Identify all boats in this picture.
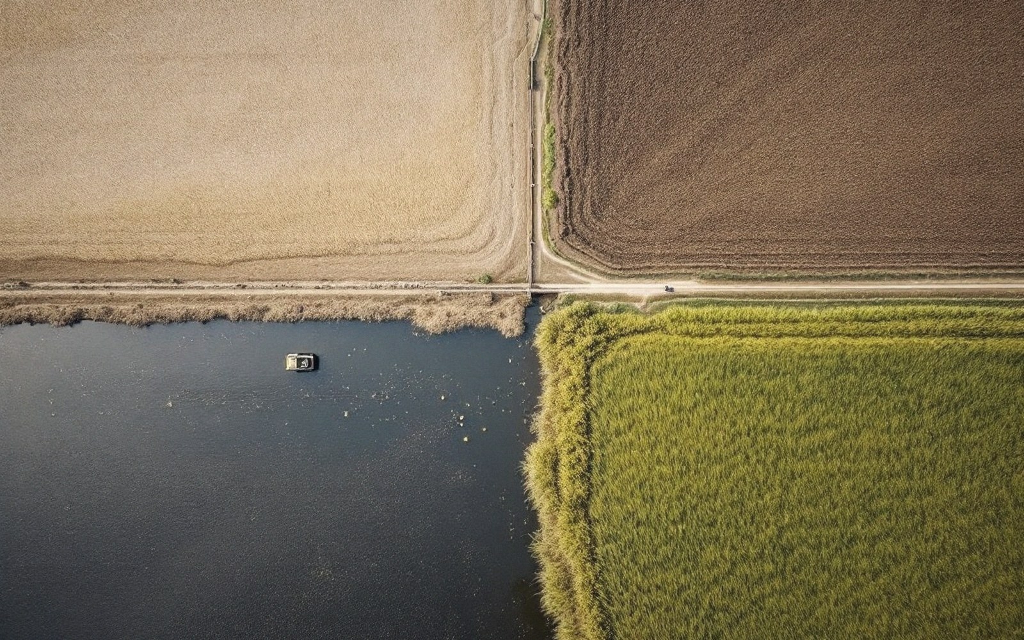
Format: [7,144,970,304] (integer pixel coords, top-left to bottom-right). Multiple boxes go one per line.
[284,353,317,372]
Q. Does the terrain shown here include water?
Yes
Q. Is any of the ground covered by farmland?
Yes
